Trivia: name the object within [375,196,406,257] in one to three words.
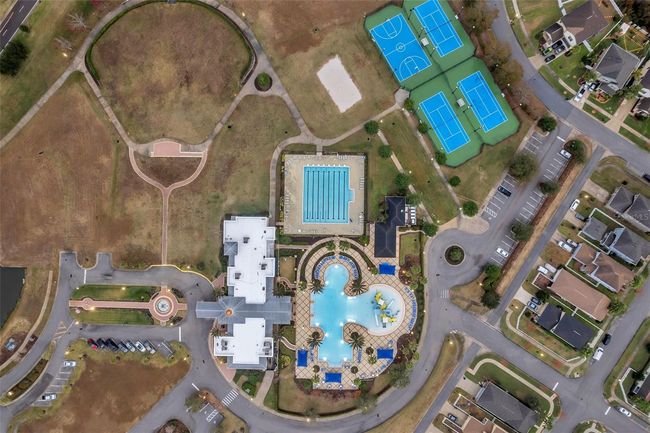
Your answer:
building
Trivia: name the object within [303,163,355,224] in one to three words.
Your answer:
swimming pool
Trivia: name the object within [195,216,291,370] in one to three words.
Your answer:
building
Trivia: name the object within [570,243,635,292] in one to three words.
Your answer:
house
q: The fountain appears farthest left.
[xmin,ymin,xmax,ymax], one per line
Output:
[154,298,171,315]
